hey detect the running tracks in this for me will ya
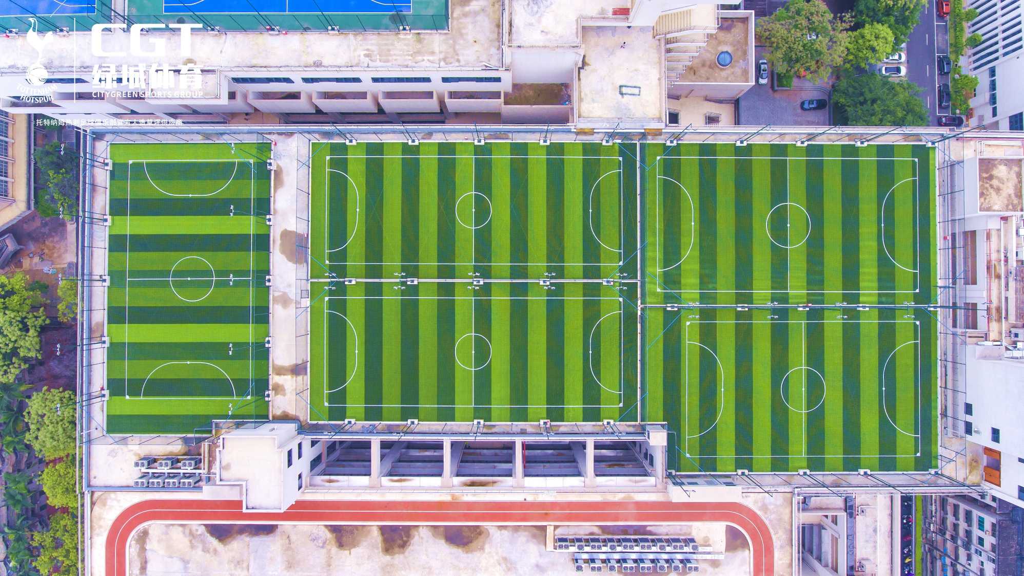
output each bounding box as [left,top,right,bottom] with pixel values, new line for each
[105,499,775,576]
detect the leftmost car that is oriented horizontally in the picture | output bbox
[802,98,827,110]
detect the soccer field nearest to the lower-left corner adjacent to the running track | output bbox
[104,141,274,436]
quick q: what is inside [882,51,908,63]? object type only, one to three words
vehicle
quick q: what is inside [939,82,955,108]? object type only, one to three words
car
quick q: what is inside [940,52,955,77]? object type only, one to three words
car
